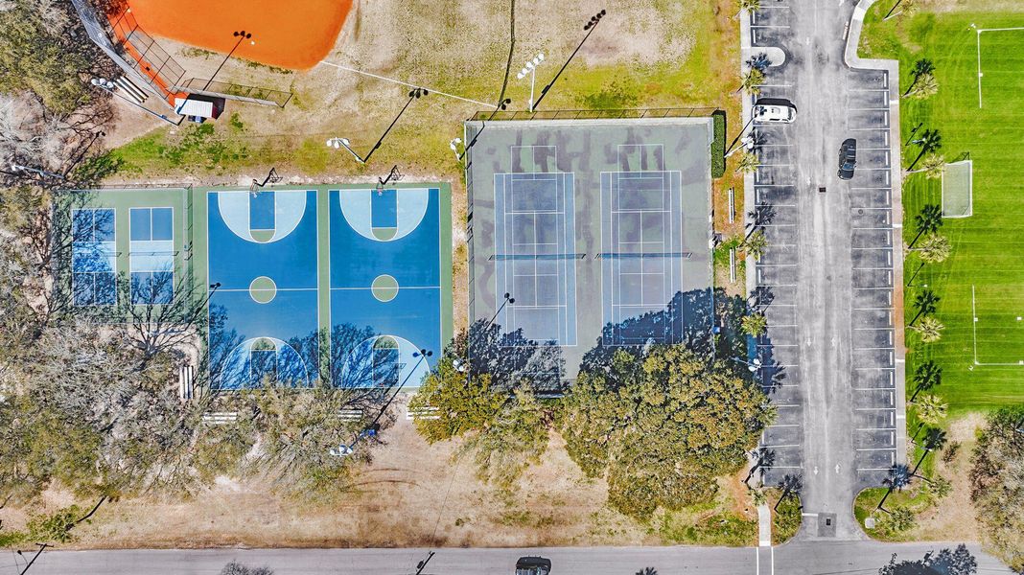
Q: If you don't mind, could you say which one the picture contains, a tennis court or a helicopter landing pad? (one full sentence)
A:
The one in the frame is a tennis court.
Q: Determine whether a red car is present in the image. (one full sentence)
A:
No, the photo shows no red car.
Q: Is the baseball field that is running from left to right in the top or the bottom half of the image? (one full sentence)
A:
It is in the top half that the baseball field that is running from left to right appears.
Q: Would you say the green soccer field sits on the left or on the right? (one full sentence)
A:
The green soccer field appears in the right half of the scene.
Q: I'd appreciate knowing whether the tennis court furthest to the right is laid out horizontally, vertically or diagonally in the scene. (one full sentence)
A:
In this picture, the tennis court furthest to the right is oriented vertically.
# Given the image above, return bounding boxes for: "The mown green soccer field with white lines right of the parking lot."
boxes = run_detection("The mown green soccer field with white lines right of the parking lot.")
[937,22,1024,371]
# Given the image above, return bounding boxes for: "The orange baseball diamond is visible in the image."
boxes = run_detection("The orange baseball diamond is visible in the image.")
[101,0,498,107]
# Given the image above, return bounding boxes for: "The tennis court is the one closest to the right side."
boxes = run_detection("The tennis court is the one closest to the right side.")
[600,145,683,373]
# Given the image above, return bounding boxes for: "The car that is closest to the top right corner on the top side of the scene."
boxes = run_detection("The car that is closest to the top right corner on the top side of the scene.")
[836,145,855,181]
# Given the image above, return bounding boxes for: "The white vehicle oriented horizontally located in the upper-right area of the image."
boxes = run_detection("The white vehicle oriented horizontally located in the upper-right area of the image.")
[754,104,794,123]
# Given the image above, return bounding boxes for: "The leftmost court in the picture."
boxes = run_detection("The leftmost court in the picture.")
[72,208,116,305]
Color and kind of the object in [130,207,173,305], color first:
blue sports court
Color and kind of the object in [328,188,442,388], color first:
blue basketball court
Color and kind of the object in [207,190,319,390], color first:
blue basketball court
